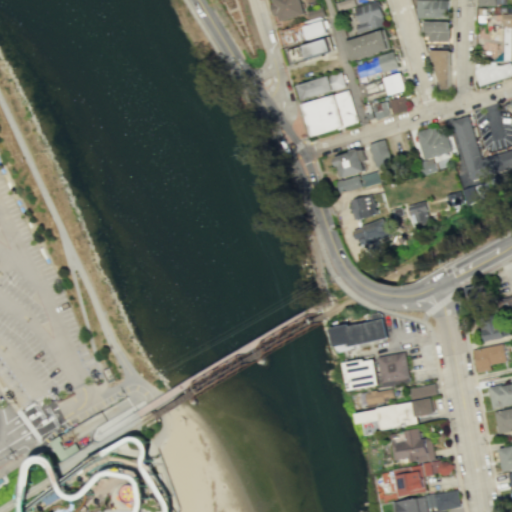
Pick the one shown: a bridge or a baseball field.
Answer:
bridge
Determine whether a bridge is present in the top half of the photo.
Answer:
No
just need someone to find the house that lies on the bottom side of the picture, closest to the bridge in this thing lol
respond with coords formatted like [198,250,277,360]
[329,319,387,353]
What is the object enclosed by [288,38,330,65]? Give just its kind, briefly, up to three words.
building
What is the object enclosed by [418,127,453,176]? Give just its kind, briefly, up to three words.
house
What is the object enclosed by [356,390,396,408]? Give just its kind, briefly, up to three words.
house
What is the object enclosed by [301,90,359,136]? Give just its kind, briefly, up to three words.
building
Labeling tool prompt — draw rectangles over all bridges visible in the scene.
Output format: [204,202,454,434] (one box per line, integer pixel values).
[137,301,328,424]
